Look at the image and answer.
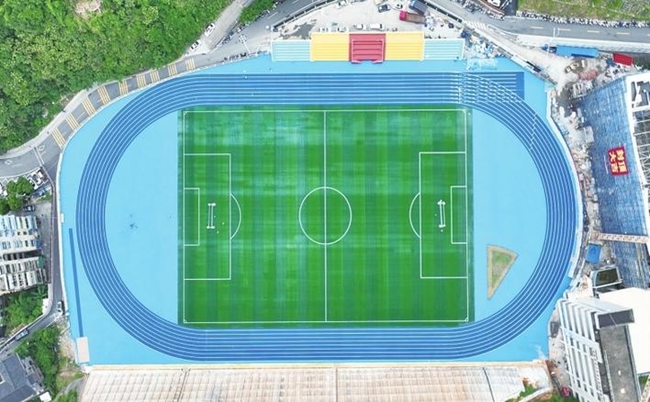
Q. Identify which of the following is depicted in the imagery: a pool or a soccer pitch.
soccer pitch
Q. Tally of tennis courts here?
0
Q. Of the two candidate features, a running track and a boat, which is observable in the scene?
running track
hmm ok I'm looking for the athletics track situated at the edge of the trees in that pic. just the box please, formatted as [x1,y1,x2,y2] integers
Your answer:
[63,50,578,363]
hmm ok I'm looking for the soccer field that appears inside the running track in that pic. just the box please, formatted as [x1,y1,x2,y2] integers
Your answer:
[178,105,474,328]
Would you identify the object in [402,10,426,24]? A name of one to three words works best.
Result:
vehicle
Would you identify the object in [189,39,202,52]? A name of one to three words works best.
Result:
vehicle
